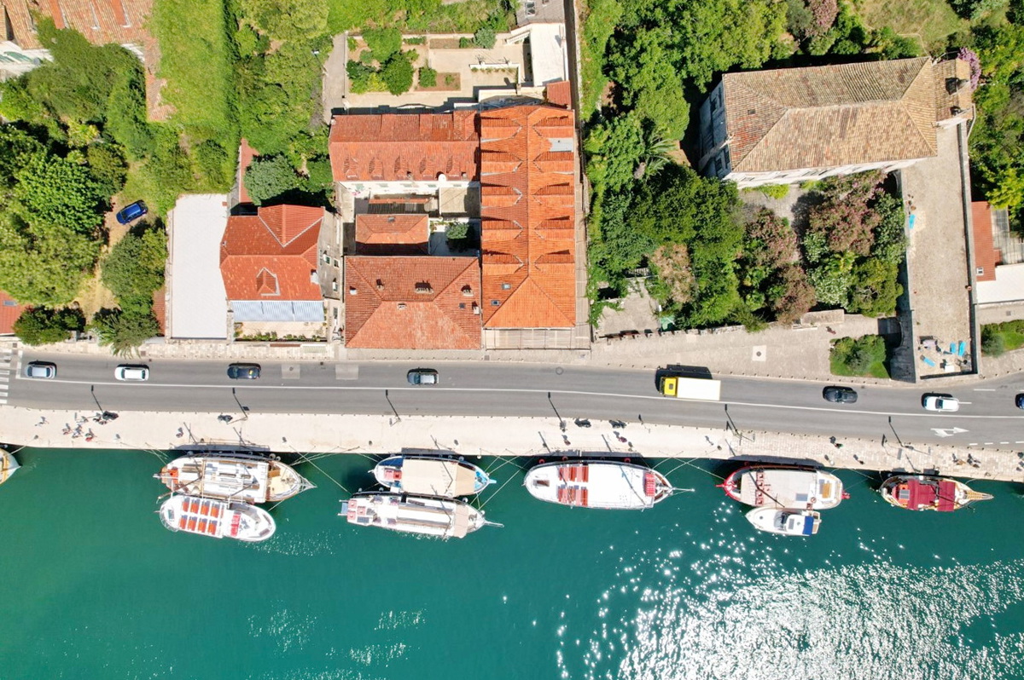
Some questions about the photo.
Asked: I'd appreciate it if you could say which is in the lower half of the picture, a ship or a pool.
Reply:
ship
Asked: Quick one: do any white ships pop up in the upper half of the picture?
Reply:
No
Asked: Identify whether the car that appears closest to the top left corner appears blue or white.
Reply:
blue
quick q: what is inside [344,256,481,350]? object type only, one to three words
house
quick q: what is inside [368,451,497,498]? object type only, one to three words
boat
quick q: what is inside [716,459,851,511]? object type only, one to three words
boat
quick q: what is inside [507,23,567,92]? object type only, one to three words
building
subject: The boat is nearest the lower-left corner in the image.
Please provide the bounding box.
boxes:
[0,443,32,482]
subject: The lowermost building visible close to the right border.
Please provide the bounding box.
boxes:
[978,265,1024,305]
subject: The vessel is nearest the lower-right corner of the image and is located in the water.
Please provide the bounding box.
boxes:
[874,472,994,514]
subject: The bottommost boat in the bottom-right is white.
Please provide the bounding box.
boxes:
[743,507,822,535]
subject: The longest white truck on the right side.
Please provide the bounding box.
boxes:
[660,377,724,400]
